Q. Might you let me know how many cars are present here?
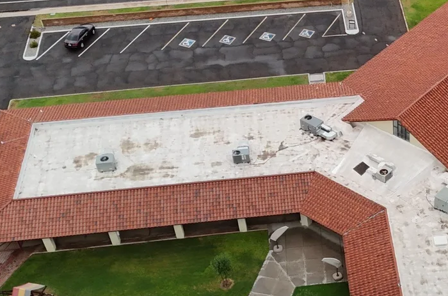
1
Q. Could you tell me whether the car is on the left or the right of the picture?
left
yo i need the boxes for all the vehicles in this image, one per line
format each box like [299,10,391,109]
[61,21,96,48]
